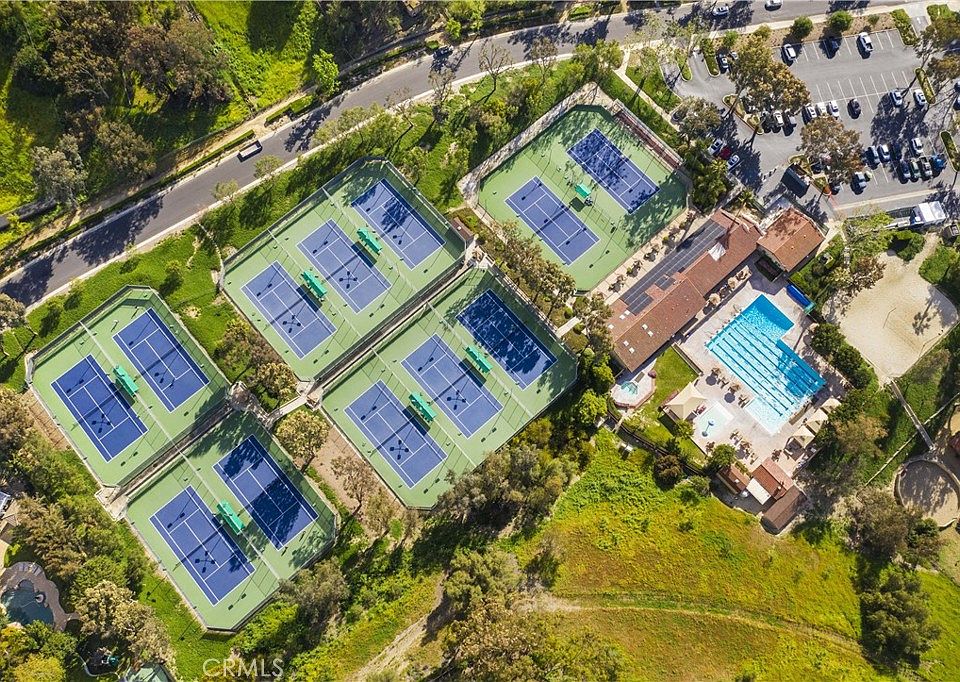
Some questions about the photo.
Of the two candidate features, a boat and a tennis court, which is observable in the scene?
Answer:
tennis court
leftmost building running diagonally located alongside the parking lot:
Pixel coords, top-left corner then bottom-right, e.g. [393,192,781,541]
[606,208,766,371]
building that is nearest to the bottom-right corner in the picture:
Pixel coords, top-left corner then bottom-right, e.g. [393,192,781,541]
[758,486,805,533]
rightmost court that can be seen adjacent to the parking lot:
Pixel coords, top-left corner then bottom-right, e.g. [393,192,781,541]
[822,231,957,382]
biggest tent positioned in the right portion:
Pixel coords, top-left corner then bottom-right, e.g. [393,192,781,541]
[663,383,708,423]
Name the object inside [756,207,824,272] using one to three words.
building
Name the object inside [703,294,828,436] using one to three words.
swimming pool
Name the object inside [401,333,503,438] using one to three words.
tennis court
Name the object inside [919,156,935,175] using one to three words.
vehicle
